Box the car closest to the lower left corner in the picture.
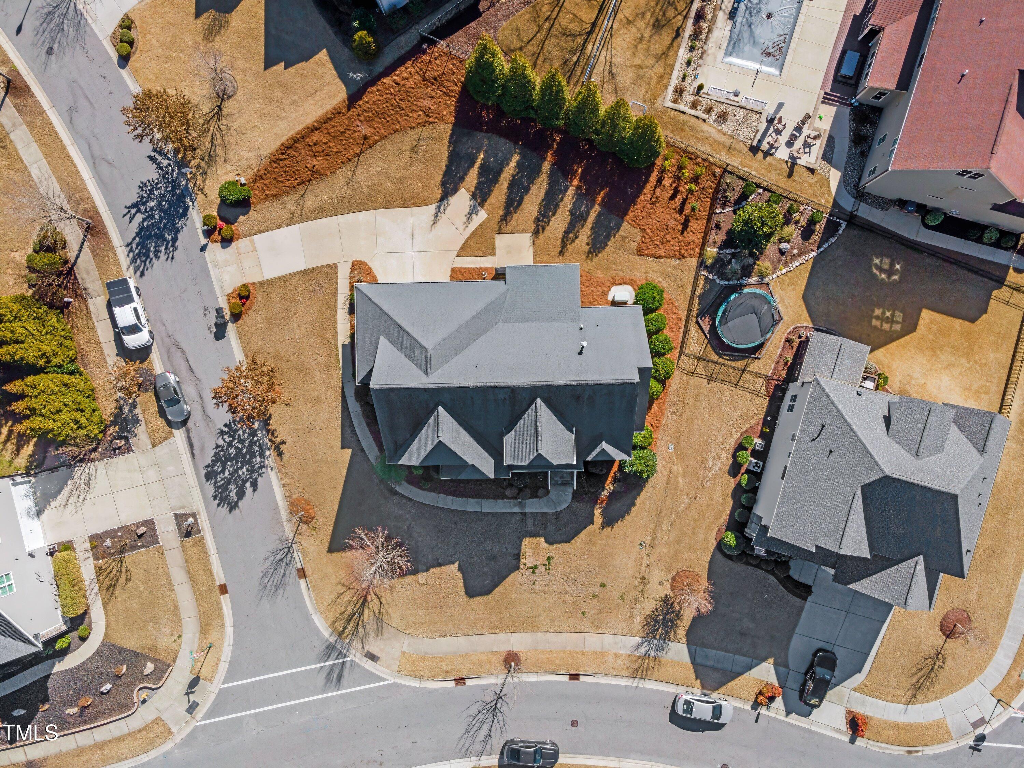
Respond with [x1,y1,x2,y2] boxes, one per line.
[152,369,191,425]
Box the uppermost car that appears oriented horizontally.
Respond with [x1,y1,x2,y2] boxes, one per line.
[673,690,734,725]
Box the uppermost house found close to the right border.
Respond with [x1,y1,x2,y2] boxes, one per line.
[853,0,1024,220]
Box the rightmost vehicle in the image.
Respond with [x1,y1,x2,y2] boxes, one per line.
[797,645,835,709]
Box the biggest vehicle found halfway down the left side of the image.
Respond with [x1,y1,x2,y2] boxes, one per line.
[107,279,155,355]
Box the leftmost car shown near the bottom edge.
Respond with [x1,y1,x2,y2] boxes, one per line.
[503,735,562,768]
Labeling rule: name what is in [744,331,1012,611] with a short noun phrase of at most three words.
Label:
house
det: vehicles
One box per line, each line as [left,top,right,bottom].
[673,690,734,725]
[152,369,191,425]
[107,279,155,355]
[797,645,835,709]
[503,735,562,768]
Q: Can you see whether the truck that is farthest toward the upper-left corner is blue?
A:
No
